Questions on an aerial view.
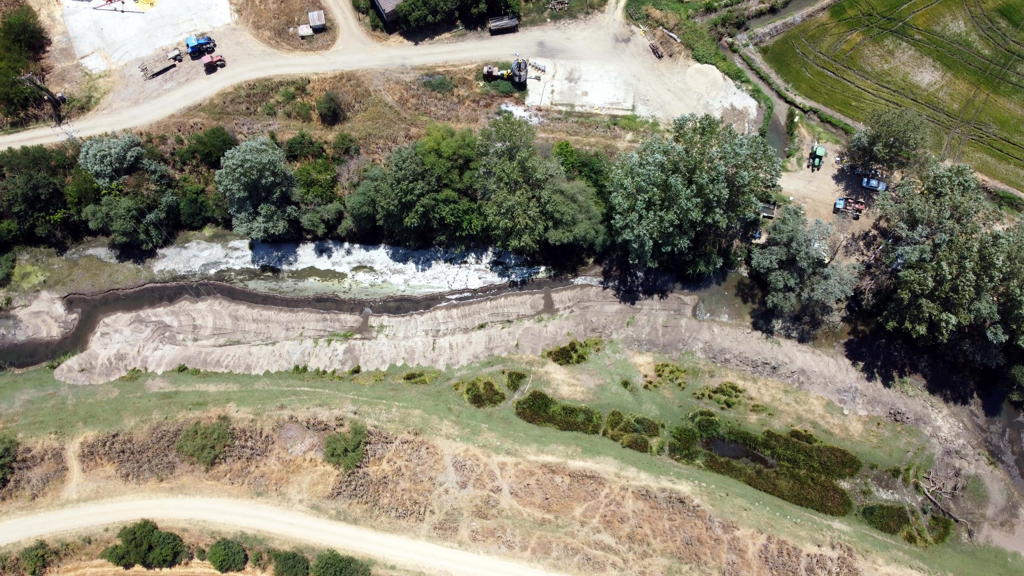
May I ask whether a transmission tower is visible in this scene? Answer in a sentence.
Yes, a transmission tower can be made out from above.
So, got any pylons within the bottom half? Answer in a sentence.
No, no pylon can be made out within the bottom half.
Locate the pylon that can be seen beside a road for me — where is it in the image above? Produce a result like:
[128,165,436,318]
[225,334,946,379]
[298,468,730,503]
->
[58,122,86,148]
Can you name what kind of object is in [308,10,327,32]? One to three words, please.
shed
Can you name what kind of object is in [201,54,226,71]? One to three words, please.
work vehicle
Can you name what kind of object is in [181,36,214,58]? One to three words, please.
work vehicle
